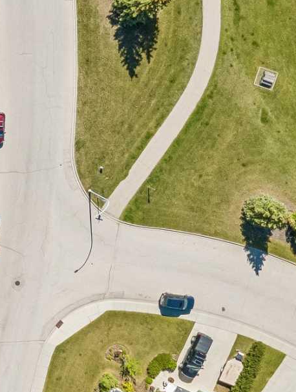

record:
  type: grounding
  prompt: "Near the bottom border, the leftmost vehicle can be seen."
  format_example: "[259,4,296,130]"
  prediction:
[179,330,210,376]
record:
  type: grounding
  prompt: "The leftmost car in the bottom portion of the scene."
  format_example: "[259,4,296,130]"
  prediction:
[158,292,193,312]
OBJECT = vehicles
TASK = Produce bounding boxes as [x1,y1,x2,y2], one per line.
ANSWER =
[158,292,193,312]
[179,330,210,376]
[0,112,6,146]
